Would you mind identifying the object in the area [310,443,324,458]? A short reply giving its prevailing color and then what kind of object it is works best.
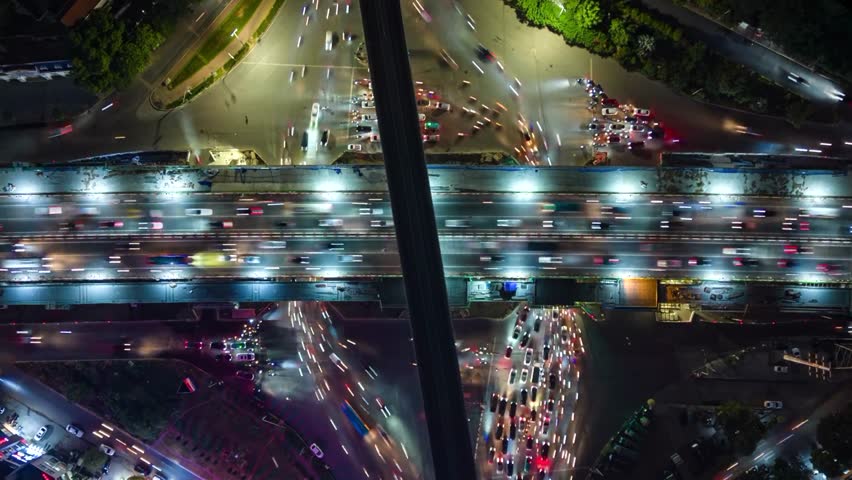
purple car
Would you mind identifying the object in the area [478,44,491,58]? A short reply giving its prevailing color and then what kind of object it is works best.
black vehicle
